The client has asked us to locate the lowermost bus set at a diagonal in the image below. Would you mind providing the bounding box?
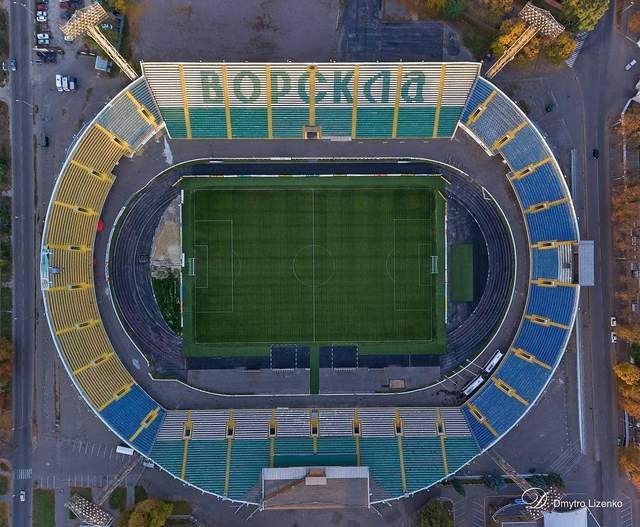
[461,374,486,396]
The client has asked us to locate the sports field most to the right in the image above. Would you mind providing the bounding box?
[451,244,473,302]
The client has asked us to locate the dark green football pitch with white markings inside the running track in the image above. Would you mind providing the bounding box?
[182,176,447,394]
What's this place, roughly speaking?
sports ground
